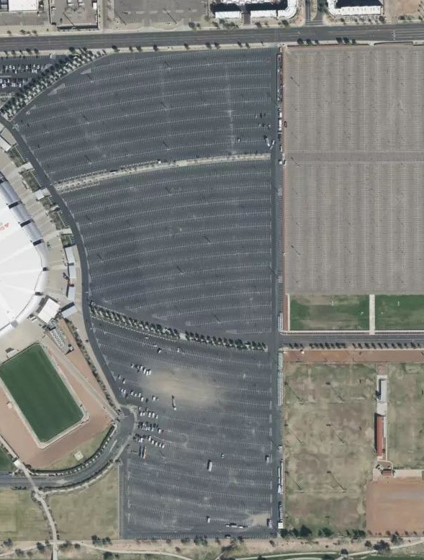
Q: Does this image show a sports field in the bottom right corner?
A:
Yes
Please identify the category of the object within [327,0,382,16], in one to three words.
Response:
building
